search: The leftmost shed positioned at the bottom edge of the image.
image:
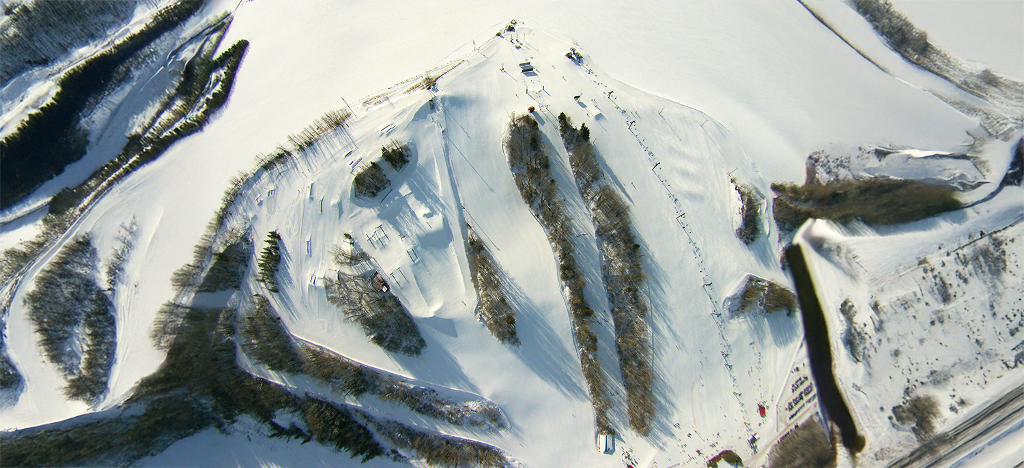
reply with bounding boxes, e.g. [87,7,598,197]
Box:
[598,436,614,456]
